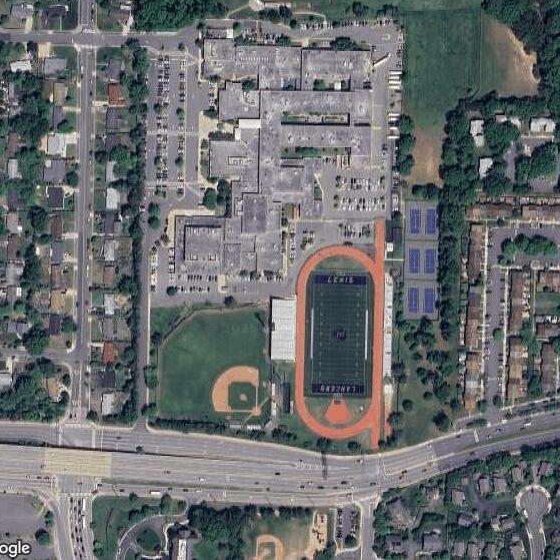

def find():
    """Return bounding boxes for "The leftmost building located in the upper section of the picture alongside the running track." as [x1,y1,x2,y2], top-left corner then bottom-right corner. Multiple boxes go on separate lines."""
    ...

[175,39,371,275]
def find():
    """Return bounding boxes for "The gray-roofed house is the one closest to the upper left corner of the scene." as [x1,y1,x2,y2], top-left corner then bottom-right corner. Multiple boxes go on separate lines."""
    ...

[11,4,31,25]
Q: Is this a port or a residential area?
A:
residential area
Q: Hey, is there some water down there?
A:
No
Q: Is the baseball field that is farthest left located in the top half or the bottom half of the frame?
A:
bottom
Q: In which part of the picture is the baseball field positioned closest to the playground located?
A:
bottom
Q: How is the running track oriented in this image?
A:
from top to bottom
